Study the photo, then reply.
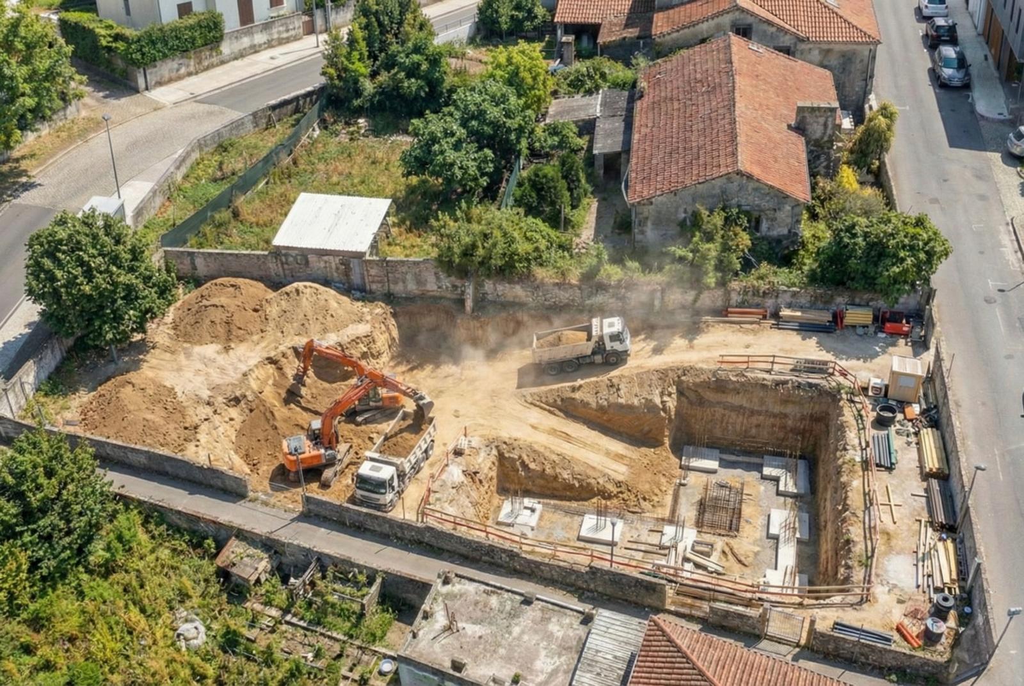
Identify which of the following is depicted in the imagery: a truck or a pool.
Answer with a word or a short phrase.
truck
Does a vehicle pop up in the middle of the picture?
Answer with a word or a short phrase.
Yes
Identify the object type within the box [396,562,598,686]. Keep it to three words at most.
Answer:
shed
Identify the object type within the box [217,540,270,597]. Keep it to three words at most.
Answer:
shed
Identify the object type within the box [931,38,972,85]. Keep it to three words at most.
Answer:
car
